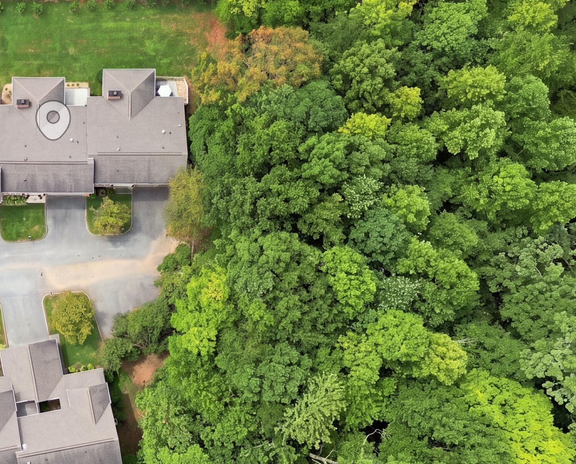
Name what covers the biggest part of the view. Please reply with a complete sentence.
Most of the picture is covered by trees.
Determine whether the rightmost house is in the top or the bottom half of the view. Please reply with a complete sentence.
The rightmost house sits in the top half of the picture.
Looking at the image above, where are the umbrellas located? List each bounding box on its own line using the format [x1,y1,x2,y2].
[158,84,172,97]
